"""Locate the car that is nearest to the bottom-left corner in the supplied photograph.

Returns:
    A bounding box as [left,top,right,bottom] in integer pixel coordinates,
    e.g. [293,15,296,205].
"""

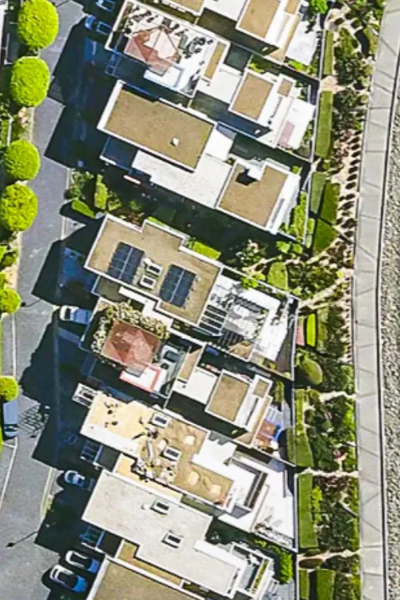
[52,568,85,588]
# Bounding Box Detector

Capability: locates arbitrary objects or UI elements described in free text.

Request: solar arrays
[108,242,144,284]
[158,263,196,308]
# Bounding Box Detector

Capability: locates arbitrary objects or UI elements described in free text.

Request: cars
[81,15,115,35]
[78,32,101,66]
[57,468,92,488]
[66,551,100,571]
[87,0,121,14]
[52,568,85,588]
[58,305,93,323]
